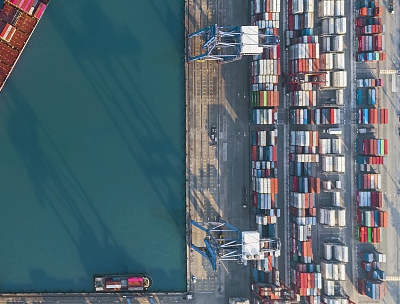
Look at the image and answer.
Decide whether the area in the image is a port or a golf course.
port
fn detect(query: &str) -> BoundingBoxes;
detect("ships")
[94,274,152,291]
[0,0,50,91]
